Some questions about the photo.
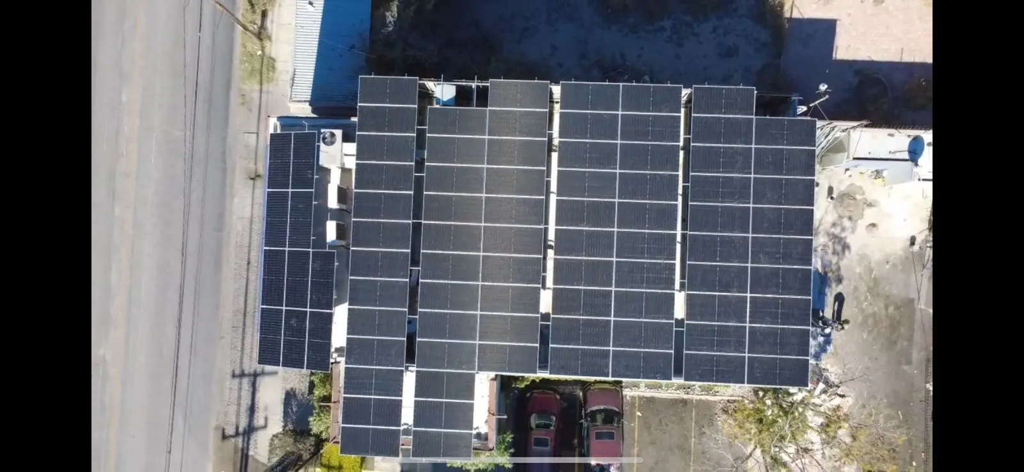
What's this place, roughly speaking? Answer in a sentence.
The picture captures a solar farm.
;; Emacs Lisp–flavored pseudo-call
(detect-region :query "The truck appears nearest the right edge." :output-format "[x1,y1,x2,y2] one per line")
[580,381,627,472]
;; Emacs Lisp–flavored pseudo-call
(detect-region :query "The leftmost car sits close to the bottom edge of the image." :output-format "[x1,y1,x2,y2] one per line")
[522,389,564,472]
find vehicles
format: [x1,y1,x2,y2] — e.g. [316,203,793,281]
[580,381,627,472]
[522,389,564,472]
